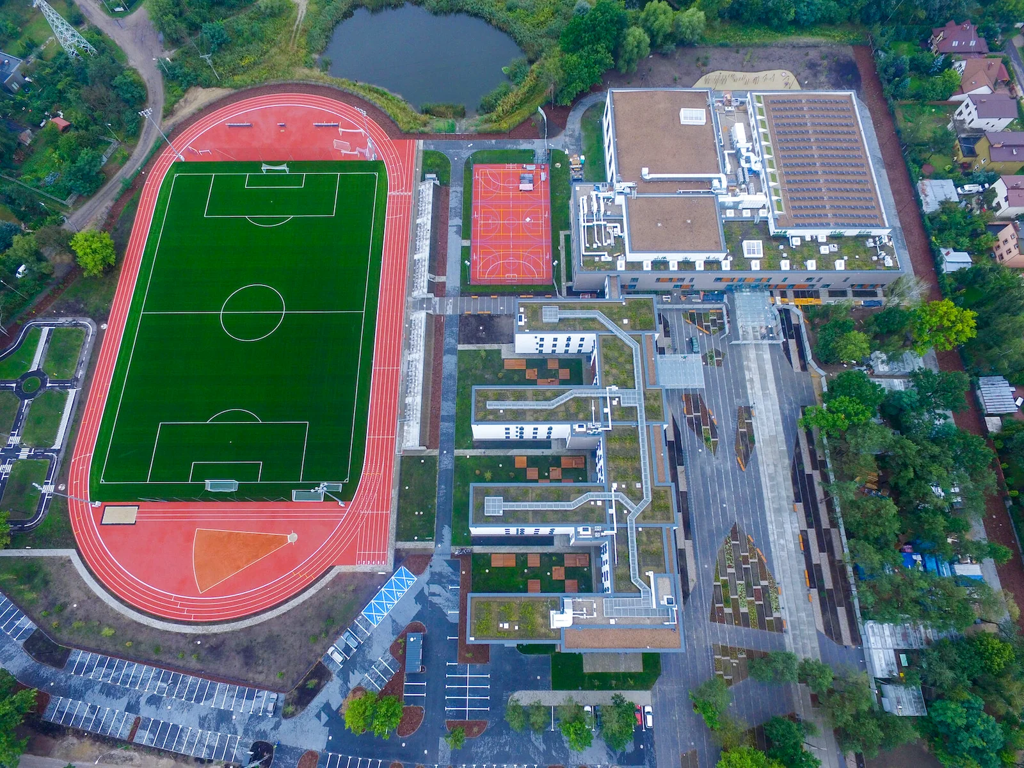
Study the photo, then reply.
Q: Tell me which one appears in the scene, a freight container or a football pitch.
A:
football pitch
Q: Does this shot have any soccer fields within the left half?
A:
Yes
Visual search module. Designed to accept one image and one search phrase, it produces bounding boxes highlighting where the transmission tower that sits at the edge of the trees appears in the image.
[32,0,94,60]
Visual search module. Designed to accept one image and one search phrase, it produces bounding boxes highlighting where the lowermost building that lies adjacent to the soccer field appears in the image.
[466,298,687,653]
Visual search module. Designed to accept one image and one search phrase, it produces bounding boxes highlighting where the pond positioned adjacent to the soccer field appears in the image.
[320,3,525,117]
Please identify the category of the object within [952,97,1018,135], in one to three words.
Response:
house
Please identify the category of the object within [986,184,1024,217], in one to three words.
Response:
house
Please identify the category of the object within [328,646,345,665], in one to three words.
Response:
car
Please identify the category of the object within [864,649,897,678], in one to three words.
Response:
shed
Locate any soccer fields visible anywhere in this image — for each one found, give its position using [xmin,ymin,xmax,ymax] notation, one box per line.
[97,161,378,501]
